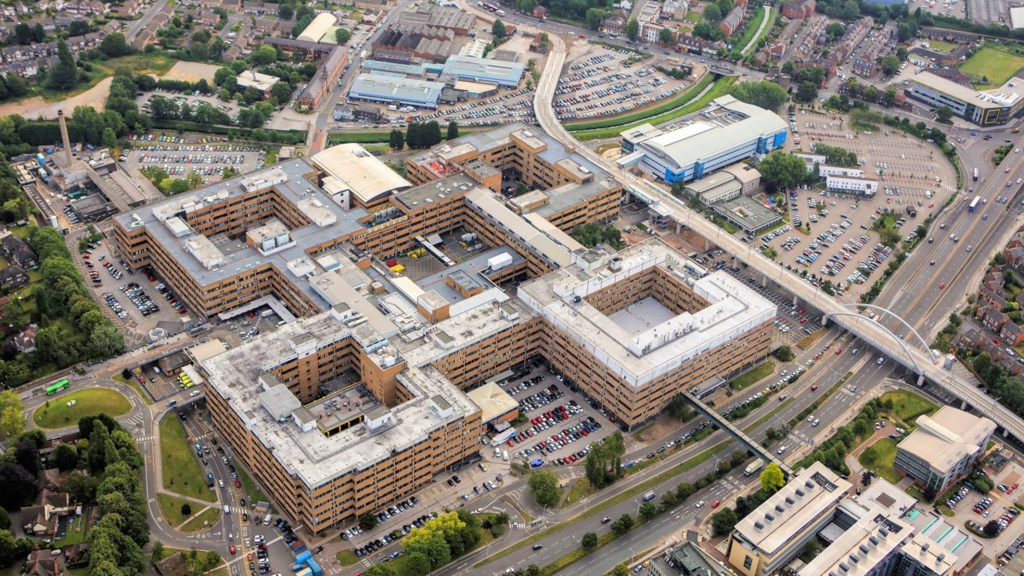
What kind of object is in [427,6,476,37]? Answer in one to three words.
shed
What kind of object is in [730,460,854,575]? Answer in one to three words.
building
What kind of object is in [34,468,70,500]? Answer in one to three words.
house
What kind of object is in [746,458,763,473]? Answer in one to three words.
vehicle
